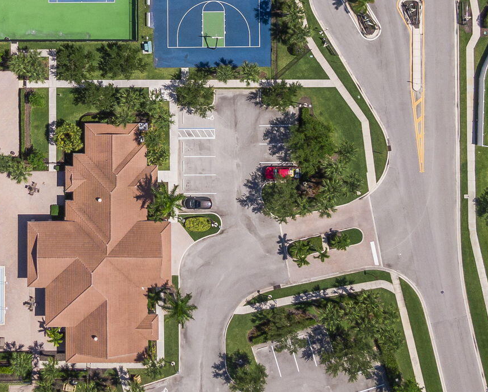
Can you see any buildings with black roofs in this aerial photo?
No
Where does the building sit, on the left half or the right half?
left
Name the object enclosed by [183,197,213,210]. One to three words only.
vehicle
